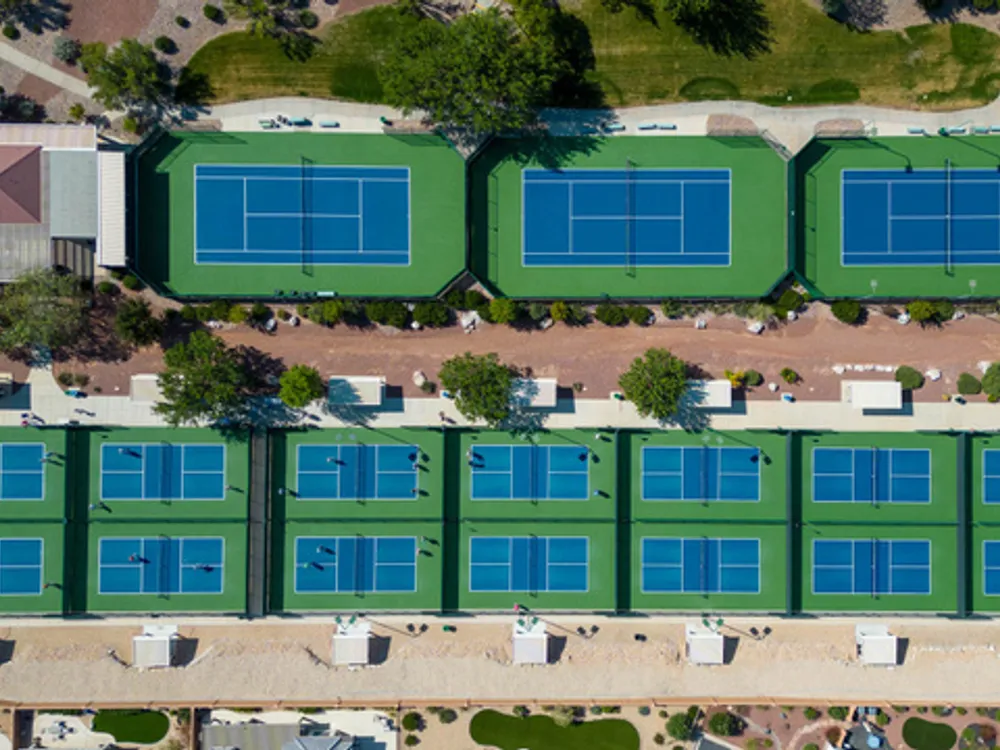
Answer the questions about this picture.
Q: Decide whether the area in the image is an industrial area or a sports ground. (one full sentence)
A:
This image shows a sports ground.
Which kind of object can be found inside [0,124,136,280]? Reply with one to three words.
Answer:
building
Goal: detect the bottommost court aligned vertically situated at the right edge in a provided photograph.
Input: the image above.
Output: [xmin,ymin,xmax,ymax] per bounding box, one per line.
[966,526,1000,612]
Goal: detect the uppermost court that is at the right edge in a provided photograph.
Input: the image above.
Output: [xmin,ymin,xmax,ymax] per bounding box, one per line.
[794,138,1000,299]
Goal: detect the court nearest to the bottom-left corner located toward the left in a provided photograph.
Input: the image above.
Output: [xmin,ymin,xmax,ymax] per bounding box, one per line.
[0,522,65,611]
